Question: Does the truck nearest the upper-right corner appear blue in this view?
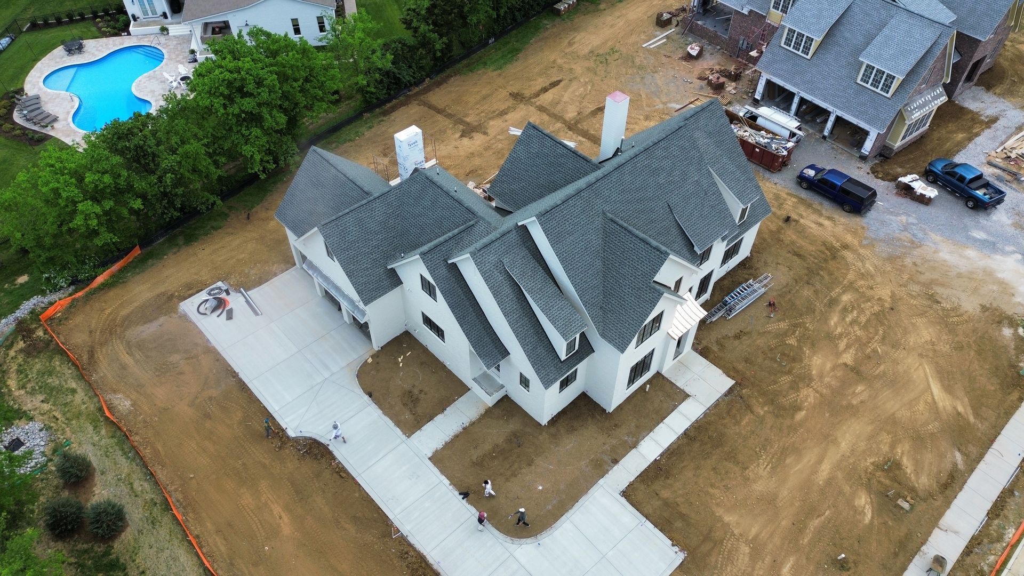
Yes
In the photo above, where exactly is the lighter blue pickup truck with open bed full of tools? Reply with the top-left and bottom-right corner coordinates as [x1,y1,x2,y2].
[919,156,1013,207]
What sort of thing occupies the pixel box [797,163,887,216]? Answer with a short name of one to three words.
truck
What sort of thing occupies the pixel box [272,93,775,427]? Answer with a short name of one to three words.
house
